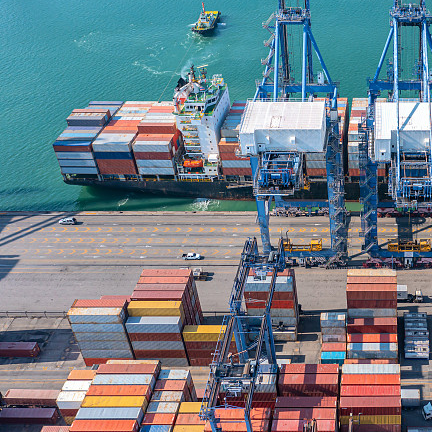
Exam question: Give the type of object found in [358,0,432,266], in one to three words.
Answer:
container crane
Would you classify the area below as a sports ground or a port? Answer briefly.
port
